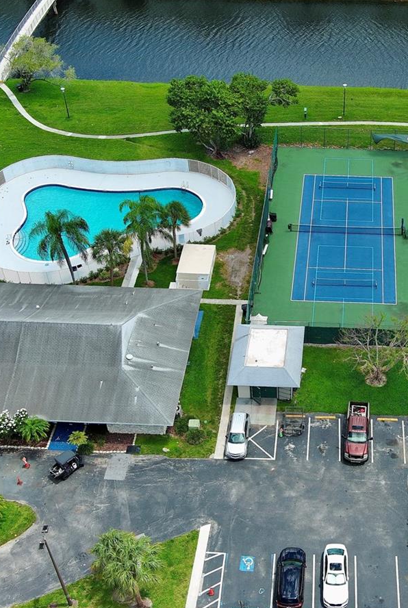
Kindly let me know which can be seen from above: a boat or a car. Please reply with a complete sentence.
This aerial view contains a car.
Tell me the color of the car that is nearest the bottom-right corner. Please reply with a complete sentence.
In this view, the car that is nearest the bottom-right corner is white.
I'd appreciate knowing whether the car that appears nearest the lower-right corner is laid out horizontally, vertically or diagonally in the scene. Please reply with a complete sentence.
The car that appears nearest the lower-right corner runs vertically in the image.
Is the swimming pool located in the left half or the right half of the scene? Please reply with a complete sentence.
You can find the swimming pool on the left side of the picture.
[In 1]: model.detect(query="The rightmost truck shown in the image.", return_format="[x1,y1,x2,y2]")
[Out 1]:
[344,405,372,460]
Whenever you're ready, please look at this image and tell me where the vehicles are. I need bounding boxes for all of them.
[275,548,306,608]
[41,447,84,481]
[222,408,251,457]
[344,405,372,460]
[320,543,350,604]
